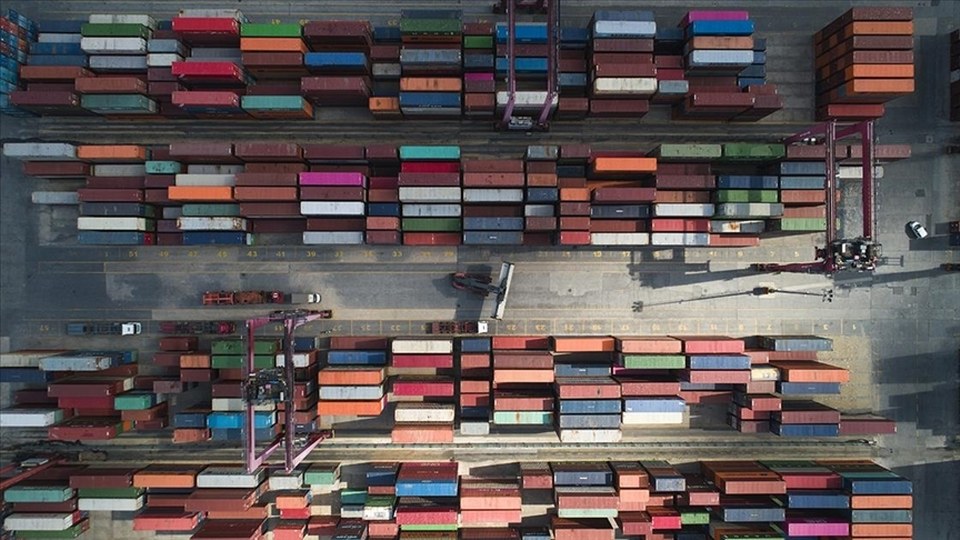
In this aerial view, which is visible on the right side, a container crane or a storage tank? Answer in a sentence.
There is a container crane on the right side.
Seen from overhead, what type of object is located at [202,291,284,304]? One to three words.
vehicle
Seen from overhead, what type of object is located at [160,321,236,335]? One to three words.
vehicle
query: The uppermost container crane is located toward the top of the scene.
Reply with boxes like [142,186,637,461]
[488,0,559,130]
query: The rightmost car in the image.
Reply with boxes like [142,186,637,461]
[908,219,926,239]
